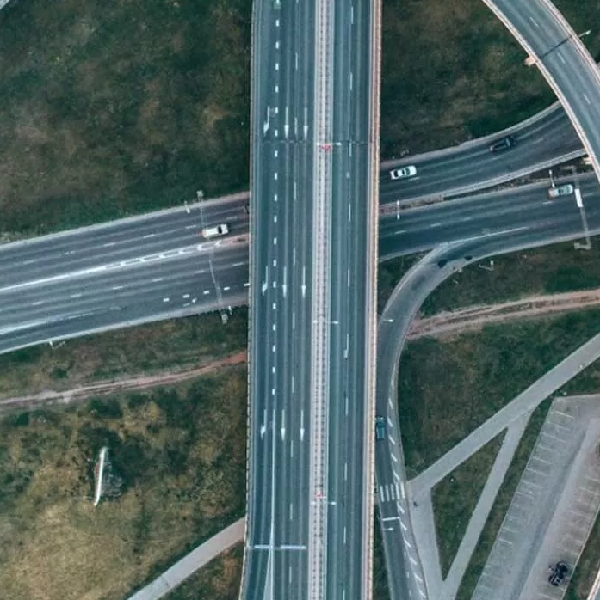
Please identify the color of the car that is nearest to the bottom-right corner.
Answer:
black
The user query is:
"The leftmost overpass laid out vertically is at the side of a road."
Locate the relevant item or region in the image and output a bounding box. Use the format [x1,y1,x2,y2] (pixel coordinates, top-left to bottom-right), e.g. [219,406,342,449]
[238,0,381,600]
